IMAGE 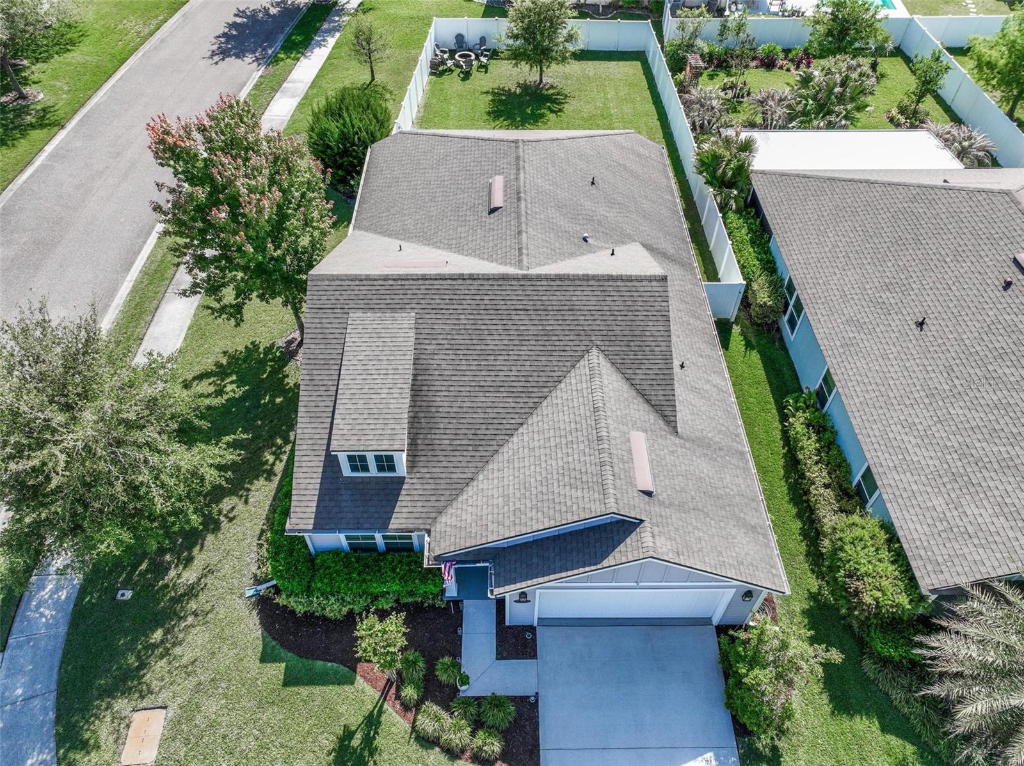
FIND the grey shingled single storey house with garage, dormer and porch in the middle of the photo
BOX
[285,131,795,627]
